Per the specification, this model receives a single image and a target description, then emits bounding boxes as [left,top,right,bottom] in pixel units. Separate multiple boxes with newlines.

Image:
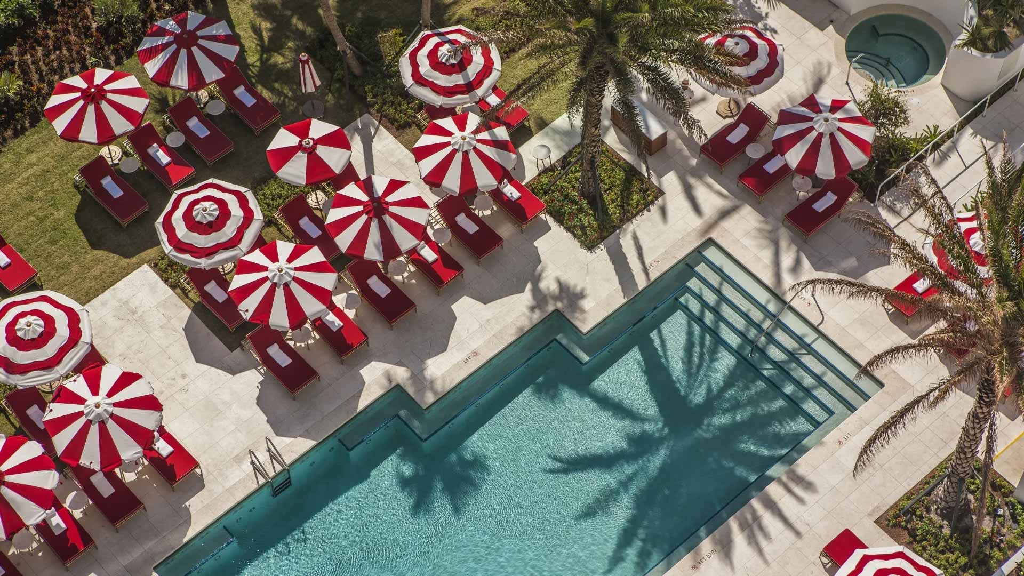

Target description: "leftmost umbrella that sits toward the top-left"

[45,64,151,165]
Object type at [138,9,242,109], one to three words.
umbrella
